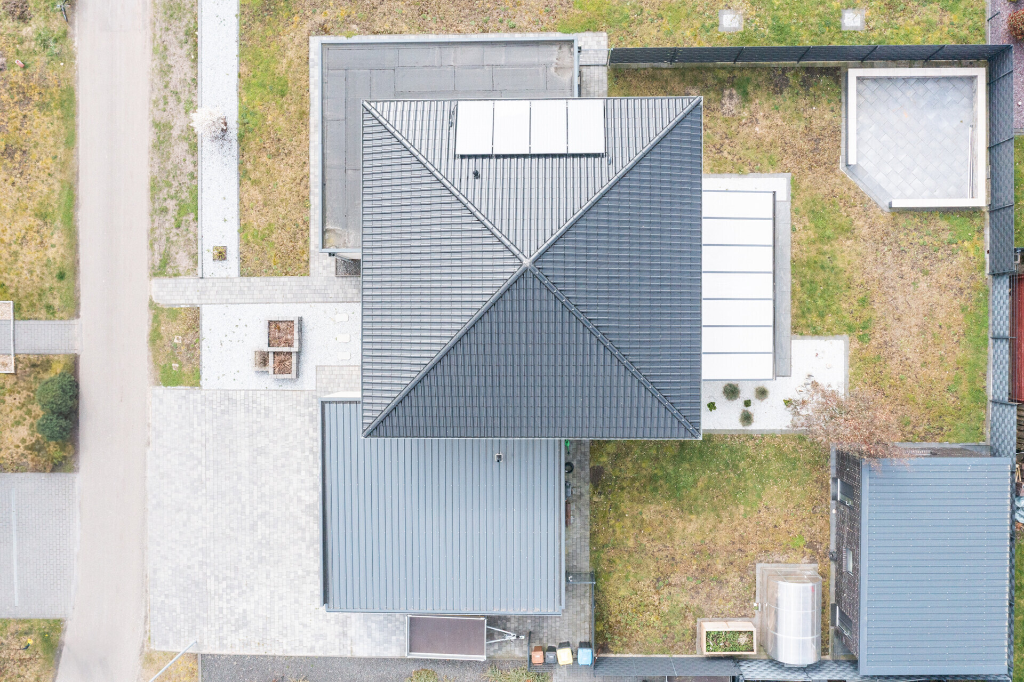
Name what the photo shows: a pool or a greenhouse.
greenhouse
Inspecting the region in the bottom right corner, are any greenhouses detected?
Yes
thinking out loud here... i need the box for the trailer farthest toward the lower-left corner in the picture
[405,613,525,662]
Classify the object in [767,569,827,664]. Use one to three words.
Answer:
greenhouse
